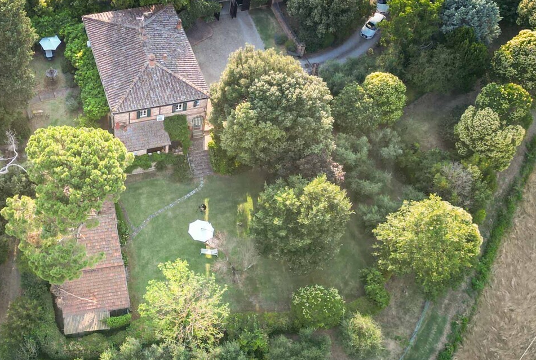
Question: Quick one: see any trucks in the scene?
No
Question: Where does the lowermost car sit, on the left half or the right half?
right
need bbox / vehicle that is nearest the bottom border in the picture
[362,13,383,40]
